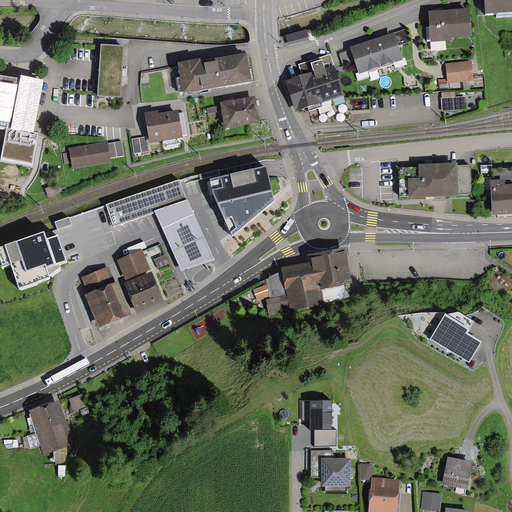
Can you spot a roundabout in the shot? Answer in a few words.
Yes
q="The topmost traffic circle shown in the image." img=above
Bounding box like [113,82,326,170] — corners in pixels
[294,197,353,250]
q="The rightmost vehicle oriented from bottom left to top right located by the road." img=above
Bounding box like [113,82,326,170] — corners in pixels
[280,218,294,234]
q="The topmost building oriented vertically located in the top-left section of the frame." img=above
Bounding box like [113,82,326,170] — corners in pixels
[98,44,124,98]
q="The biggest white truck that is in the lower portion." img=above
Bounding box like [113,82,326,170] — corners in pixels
[46,356,92,385]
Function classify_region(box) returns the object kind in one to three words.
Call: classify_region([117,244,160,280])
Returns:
house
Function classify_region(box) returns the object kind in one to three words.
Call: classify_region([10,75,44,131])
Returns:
building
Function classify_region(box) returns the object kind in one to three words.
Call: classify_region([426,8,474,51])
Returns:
house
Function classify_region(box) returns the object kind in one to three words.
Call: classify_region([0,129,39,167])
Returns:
building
